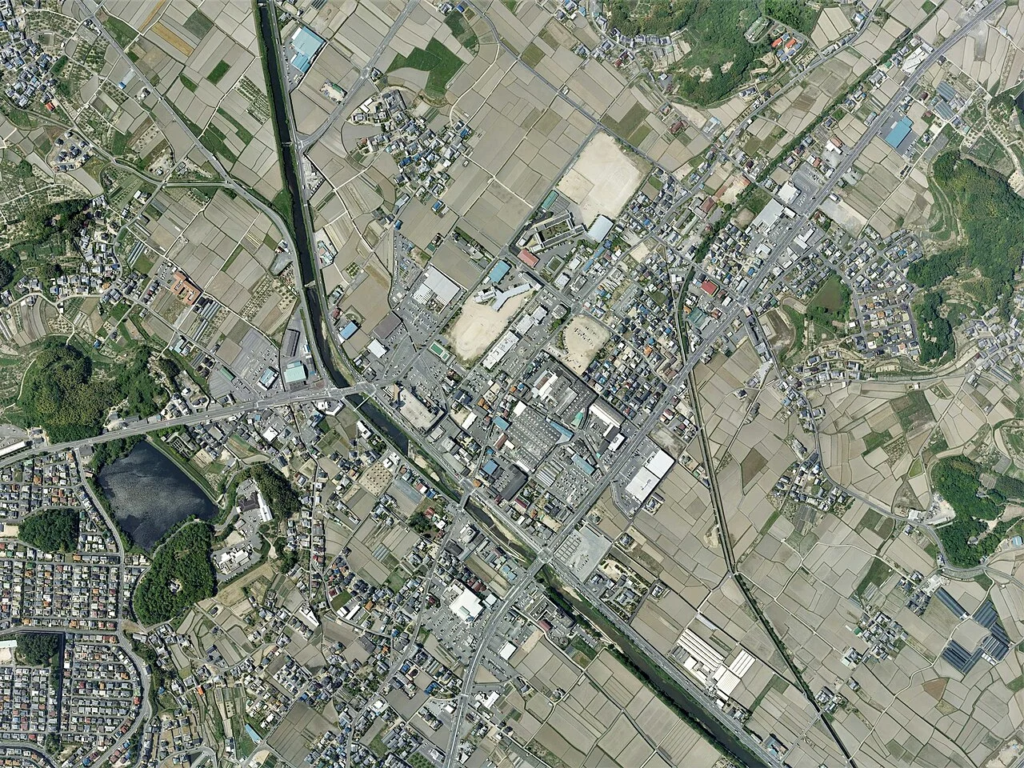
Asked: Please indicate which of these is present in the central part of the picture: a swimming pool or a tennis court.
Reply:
swimming pool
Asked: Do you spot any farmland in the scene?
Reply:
Yes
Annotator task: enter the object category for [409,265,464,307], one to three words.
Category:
house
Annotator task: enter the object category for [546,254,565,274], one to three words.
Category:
swimming pool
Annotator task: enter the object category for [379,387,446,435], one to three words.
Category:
building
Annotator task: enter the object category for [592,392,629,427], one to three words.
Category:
shed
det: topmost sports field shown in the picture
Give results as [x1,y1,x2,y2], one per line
[558,130,644,224]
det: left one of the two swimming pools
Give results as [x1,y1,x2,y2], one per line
[429,341,452,362]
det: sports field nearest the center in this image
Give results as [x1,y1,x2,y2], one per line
[563,315,609,374]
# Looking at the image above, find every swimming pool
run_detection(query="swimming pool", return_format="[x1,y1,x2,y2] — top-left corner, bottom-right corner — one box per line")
[429,341,452,362]
[546,254,565,274]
